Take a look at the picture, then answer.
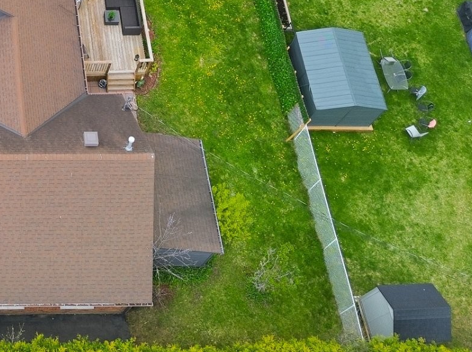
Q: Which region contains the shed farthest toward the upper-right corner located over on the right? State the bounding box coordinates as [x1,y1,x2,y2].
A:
[288,25,388,134]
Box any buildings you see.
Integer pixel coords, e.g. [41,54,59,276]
[360,287,461,343]
[288,25,388,134]
[0,0,226,314]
